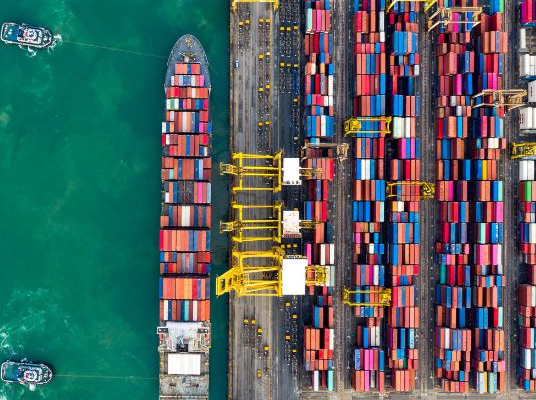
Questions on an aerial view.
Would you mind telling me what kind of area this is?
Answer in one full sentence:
It's a port.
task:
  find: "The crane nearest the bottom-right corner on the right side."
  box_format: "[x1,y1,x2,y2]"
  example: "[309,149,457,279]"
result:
[343,281,394,307]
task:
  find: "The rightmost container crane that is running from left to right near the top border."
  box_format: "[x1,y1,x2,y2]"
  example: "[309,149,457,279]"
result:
[428,9,484,37]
